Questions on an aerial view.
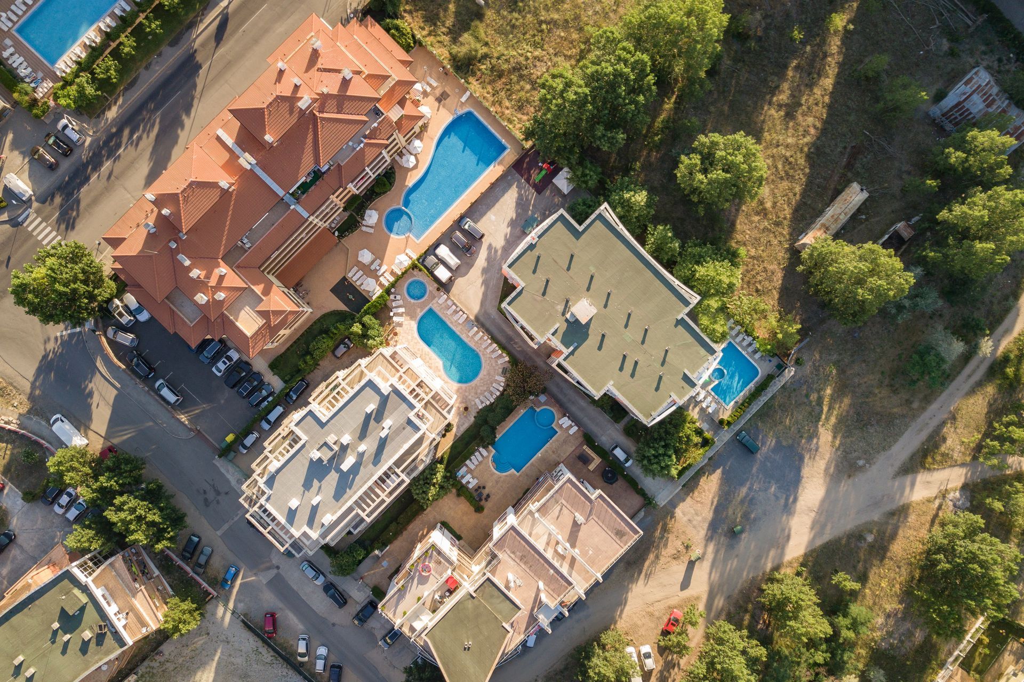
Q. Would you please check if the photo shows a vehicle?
Yes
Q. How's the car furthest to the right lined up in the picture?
at an angle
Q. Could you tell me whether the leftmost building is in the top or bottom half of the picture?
bottom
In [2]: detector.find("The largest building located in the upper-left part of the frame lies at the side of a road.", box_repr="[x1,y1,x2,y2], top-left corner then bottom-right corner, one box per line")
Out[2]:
[101,12,434,359]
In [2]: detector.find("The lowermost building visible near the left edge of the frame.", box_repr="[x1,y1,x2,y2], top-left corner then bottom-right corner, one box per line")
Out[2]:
[0,540,187,682]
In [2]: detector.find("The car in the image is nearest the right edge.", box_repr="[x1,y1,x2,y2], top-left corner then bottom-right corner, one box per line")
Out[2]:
[734,430,762,456]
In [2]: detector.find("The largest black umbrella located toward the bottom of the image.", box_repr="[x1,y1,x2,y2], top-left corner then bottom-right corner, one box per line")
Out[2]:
[601,466,619,485]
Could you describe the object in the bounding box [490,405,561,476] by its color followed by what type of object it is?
blue swimming pool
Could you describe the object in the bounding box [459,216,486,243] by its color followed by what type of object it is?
gray car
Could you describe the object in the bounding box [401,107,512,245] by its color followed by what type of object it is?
blue swimming pool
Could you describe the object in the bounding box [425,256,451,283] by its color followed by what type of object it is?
white car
